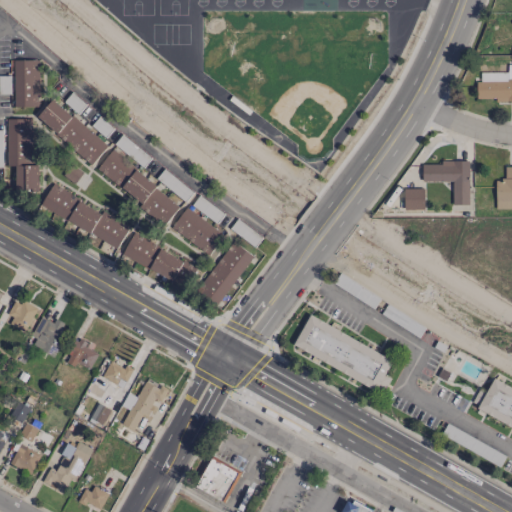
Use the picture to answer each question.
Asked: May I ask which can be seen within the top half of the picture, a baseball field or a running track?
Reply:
baseball field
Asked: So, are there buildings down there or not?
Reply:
Yes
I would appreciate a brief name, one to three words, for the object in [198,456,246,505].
building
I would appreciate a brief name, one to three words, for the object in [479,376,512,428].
building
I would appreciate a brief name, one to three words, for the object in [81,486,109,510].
house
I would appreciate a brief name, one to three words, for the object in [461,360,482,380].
swimming pool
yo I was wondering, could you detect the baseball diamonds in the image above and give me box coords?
[203,12,389,162]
